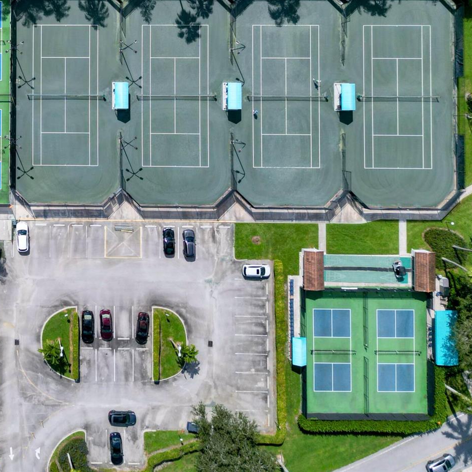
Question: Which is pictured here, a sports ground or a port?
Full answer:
This image shows a sports ground.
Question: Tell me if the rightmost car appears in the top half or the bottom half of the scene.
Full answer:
Seen from above, the rightmost car lies in the bottom half of the view.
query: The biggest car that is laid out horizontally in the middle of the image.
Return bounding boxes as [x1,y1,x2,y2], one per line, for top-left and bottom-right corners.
[240,264,270,279]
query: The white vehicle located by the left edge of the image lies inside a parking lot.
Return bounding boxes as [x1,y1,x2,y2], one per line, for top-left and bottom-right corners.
[15,222,29,252]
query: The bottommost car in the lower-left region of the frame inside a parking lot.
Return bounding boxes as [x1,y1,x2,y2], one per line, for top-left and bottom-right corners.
[109,431,125,463]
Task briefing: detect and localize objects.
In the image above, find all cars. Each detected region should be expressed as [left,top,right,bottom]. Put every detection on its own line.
[424,450,456,472]
[182,228,197,259]
[99,309,113,339]
[106,410,137,427]
[81,311,95,341]
[109,431,125,463]
[240,264,270,279]
[15,222,29,252]
[162,227,176,256]
[136,312,150,343]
